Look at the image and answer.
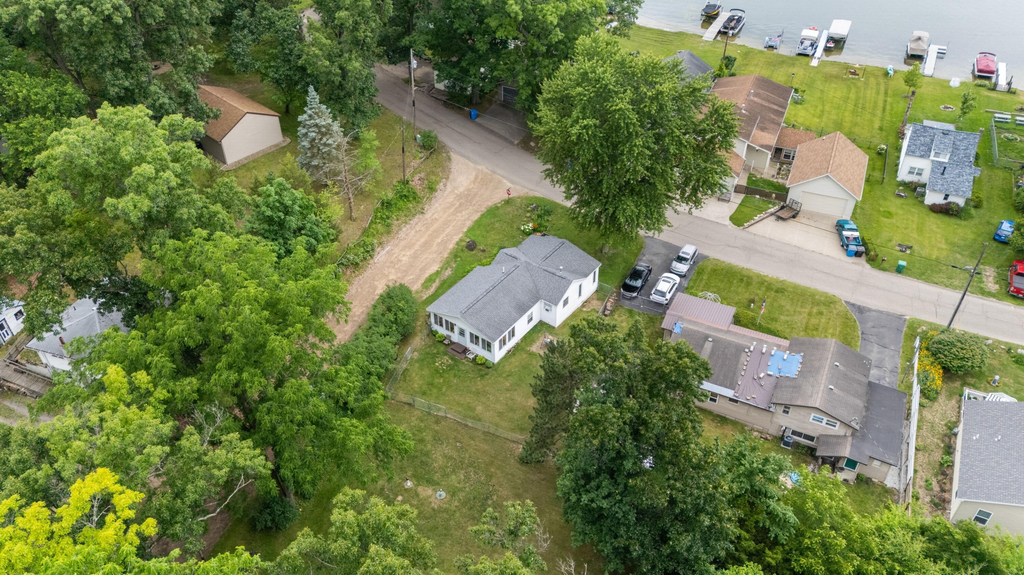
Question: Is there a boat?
Yes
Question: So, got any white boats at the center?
No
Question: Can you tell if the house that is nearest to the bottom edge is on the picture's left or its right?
right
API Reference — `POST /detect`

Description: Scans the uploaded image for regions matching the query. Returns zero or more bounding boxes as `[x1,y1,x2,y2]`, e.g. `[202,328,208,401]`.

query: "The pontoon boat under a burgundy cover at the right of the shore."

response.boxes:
[976,45,1000,77]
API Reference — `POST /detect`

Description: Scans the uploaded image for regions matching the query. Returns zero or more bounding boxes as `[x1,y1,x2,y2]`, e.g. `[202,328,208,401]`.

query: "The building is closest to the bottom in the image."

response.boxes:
[940,399,1024,542]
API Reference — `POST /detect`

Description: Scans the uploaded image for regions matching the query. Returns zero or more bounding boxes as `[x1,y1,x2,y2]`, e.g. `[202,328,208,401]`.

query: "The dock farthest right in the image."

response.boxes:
[994,63,1014,96]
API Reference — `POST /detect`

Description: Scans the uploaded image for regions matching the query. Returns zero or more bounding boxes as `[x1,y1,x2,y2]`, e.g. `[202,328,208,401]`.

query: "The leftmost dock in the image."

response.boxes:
[702,12,731,40]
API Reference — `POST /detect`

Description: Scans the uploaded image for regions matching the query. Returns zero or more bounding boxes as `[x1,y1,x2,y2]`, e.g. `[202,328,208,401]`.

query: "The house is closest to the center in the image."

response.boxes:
[424,234,604,363]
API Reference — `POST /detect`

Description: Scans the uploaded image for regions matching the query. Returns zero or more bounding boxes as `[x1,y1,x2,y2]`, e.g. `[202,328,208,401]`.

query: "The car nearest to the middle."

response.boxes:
[621,262,653,296]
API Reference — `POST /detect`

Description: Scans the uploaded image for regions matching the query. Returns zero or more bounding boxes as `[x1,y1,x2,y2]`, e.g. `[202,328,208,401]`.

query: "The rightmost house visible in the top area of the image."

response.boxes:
[897,122,990,207]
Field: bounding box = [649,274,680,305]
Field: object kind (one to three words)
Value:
car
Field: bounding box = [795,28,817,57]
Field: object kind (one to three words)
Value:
boat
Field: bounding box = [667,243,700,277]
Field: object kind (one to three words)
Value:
car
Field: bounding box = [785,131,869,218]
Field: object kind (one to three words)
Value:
building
